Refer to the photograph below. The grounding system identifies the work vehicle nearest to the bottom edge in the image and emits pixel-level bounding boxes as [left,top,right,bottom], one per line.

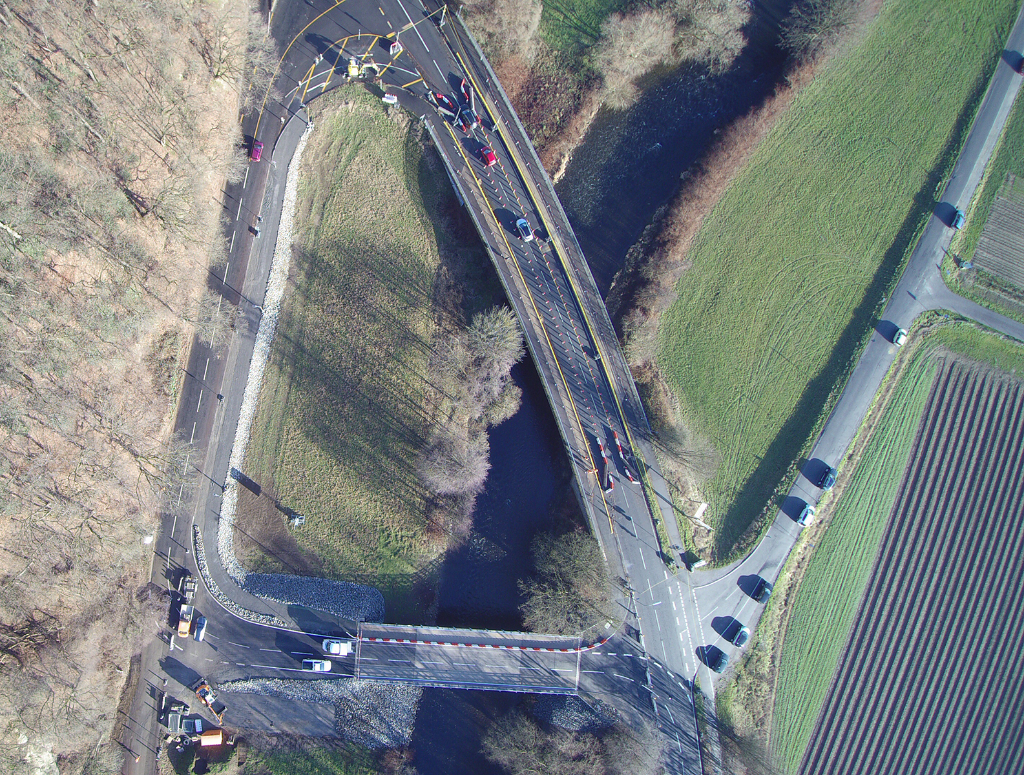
[189,679,222,721]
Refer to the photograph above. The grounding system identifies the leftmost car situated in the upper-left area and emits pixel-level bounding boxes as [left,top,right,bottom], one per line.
[251,141,265,163]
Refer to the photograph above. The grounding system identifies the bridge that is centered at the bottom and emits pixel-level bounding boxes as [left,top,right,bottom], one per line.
[356,615,598,712]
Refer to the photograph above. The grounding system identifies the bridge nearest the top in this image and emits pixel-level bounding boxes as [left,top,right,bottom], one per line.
[422,55,652,489]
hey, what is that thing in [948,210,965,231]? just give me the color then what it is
blue car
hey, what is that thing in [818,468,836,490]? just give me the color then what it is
blue car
